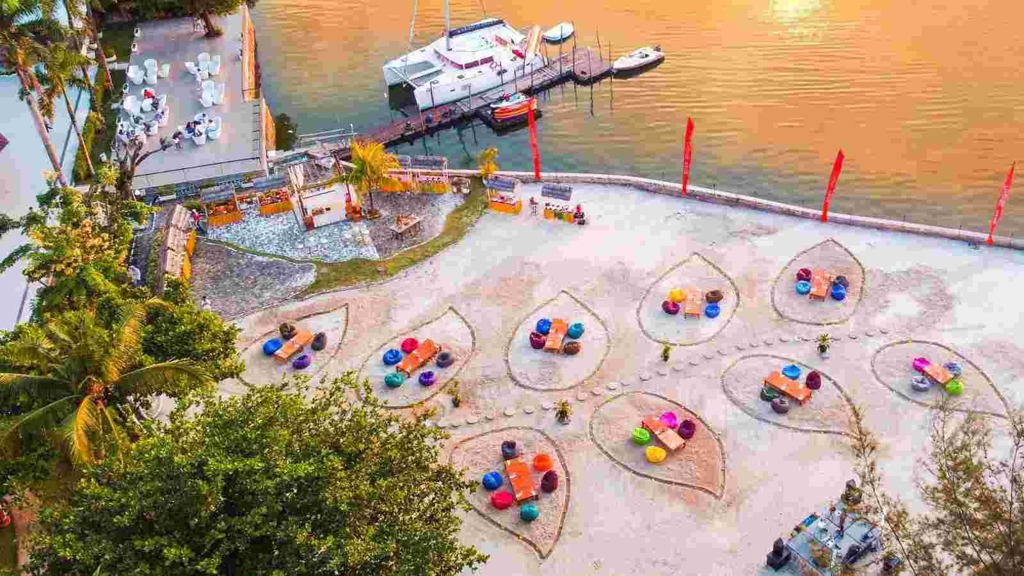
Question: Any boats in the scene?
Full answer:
Yes, looking at the shot, I can spot a boat.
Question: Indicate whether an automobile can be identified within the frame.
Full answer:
No, I can see no automobile in this picture.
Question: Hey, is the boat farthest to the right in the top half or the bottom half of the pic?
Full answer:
The top half of the photo is where the boat farthest to the right is.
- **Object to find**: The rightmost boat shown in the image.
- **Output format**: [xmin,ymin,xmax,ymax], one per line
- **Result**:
[614,46,669,72]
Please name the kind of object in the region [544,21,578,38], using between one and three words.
boat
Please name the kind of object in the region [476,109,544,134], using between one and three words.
pier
